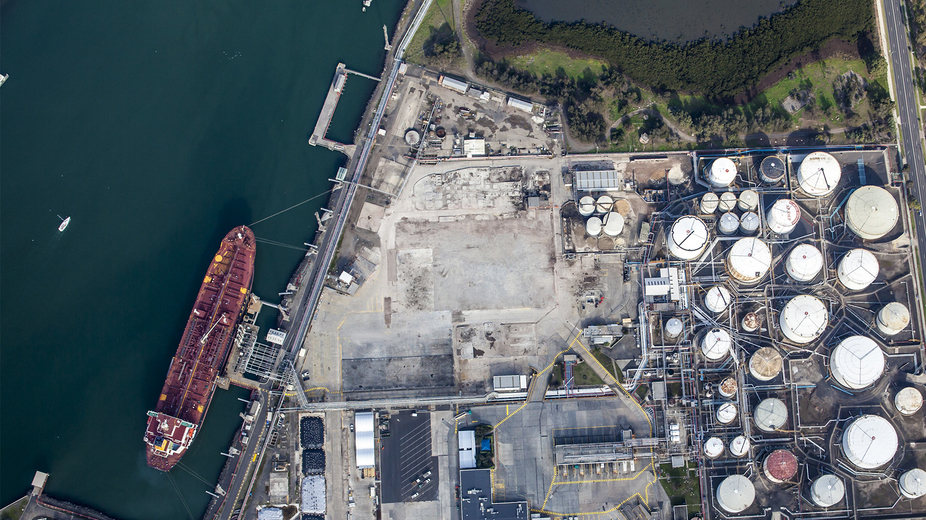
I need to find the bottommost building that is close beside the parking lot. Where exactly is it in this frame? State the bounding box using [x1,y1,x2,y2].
[460,469,528,520]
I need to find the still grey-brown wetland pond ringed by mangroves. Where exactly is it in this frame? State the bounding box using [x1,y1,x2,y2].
[515,0,799,42]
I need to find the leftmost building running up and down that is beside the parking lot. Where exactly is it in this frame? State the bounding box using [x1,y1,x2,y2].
[355,412,375,468]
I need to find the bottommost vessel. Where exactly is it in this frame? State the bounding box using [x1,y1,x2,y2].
[146,225,255,471]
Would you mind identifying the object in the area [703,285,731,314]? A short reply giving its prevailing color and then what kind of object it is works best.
white storage tank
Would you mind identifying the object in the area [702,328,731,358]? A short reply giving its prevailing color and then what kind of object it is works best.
white storage tank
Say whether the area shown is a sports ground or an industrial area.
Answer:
industrial area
